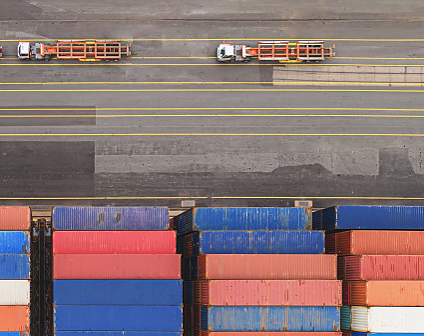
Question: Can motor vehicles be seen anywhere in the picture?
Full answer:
Yes, there's a motor vehicle down there.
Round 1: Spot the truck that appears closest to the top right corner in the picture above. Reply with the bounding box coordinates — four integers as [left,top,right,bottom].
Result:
[221,38,333,63]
